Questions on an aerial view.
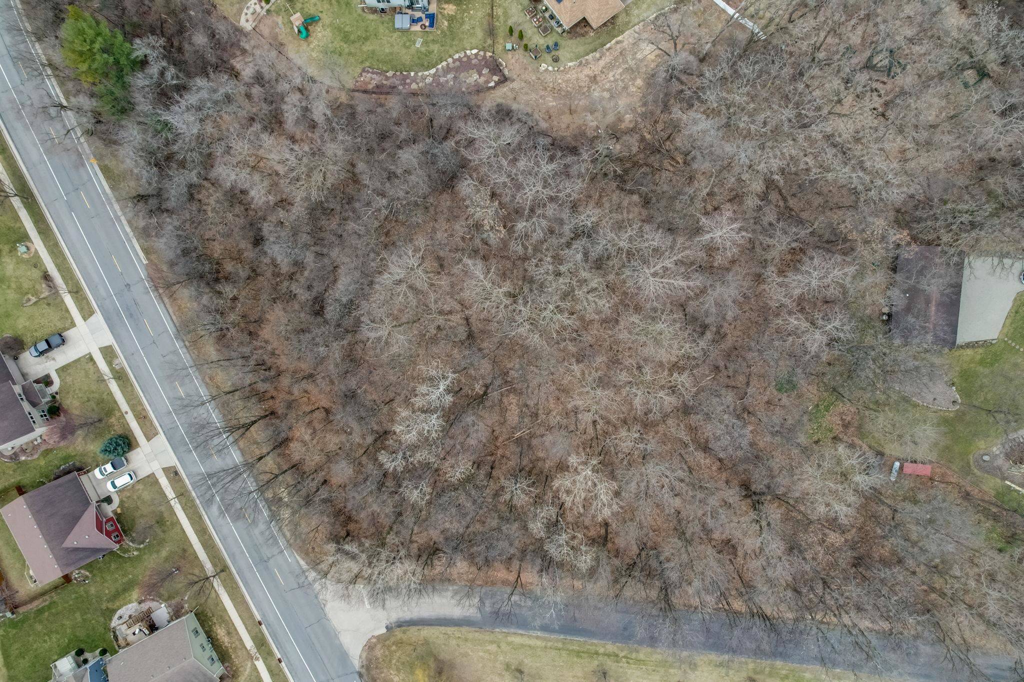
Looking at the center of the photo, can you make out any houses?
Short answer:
No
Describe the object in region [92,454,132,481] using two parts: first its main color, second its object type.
white truck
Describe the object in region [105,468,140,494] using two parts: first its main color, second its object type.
white car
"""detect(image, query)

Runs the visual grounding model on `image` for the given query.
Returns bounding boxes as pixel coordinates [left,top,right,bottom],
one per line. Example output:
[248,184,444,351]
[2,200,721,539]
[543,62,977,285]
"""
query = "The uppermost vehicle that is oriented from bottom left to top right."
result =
[27,330,69,360]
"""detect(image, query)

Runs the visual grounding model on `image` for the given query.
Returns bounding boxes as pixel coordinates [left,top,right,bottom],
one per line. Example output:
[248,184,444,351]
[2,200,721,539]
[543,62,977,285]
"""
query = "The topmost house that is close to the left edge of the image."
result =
[0,347,65,453]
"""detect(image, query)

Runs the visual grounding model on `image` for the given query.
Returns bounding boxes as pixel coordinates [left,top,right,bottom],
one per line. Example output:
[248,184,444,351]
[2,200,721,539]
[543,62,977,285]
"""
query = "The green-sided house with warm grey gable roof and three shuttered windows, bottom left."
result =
[96,607,227,682]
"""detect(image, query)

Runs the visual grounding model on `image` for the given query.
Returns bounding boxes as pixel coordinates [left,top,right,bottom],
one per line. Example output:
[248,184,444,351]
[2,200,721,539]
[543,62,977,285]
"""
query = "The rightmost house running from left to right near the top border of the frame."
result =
[539,0,625,35]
